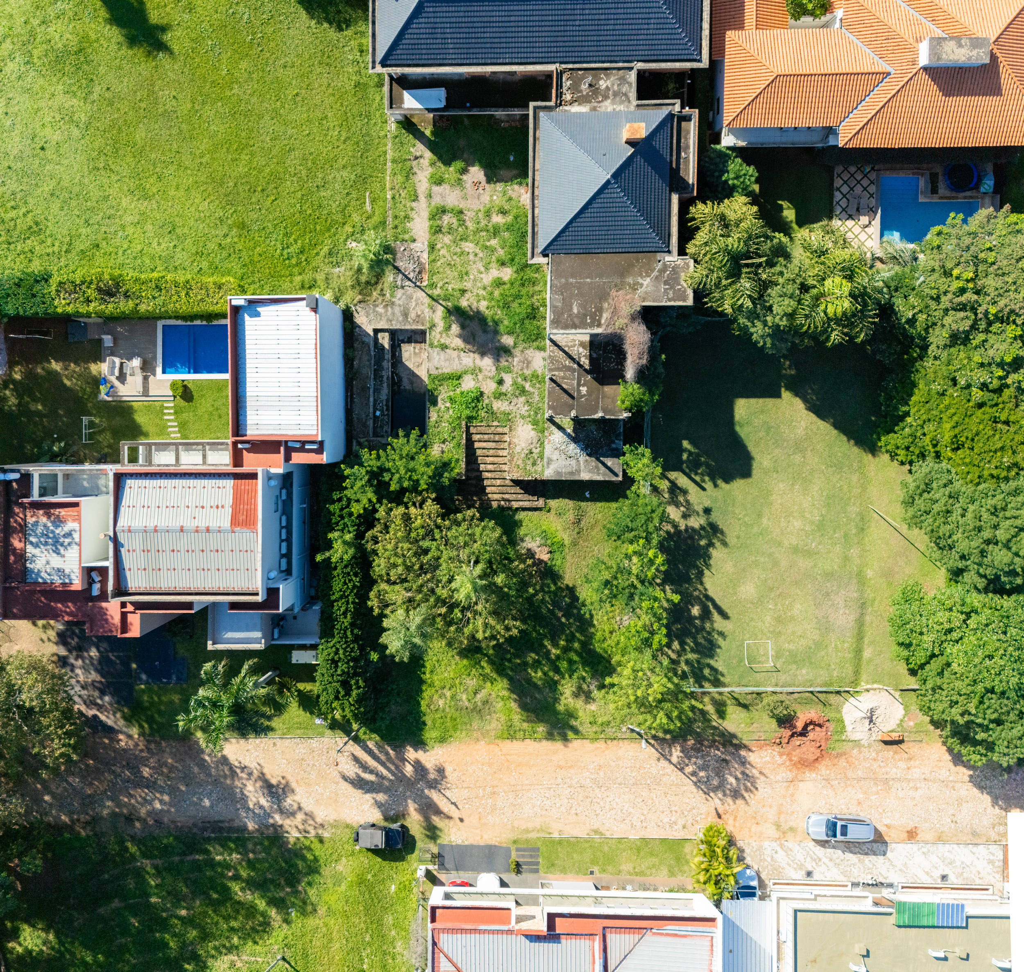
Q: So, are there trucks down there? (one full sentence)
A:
No, I can see no truck in this picture.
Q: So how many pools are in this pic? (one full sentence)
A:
I count 2 pools.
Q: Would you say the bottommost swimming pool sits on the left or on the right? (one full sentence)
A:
The bottommost swimming pool appears in the left half of the scene.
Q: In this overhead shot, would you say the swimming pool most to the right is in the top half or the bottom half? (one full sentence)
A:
The swimming pool most to the right sits in the top half of the picture.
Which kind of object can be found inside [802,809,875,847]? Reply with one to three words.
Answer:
car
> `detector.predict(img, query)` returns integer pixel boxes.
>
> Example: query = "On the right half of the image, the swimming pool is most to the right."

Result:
[875,170,1000,252]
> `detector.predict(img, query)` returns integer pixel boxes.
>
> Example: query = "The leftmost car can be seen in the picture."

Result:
[351,820,409,857]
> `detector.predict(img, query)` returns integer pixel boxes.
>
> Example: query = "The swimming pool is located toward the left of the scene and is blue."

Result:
[157,320,229,379]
